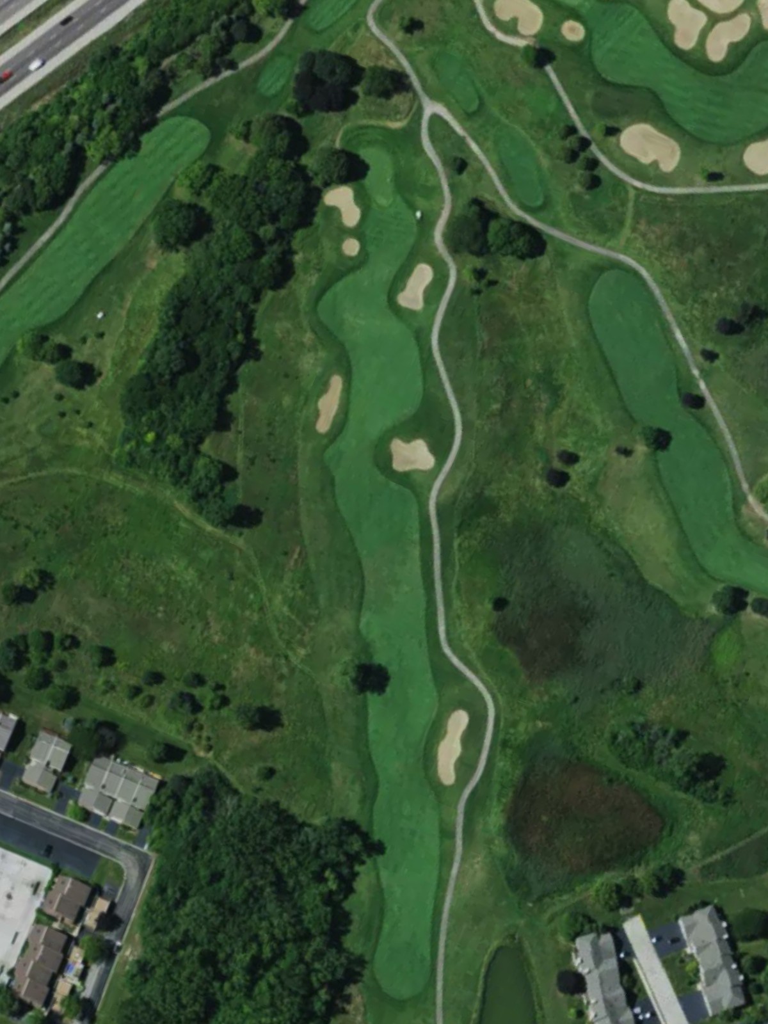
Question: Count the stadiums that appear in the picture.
zero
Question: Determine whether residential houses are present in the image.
Yes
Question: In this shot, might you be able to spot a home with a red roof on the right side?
No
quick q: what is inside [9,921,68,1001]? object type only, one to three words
house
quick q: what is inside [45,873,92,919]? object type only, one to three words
house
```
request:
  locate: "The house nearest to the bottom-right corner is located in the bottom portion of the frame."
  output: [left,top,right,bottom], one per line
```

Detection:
[678,906,750,1017]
